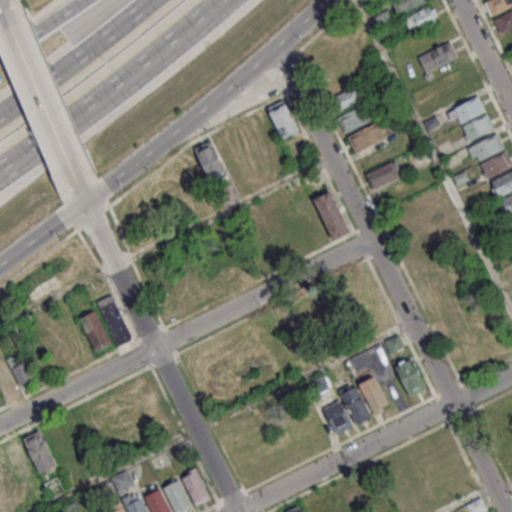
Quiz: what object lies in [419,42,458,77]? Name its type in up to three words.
house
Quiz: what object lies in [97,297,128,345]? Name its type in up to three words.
house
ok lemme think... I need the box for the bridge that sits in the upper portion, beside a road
[0,0,99,200]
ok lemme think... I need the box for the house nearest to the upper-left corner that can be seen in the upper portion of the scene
[197,138,228,177]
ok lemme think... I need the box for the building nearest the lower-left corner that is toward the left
[22,429,56,472]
